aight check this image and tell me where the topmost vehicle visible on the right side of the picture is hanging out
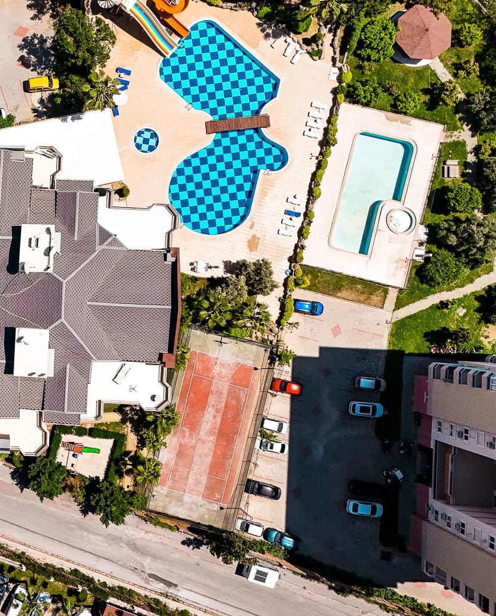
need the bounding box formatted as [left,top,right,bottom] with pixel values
[296,301,322,315]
